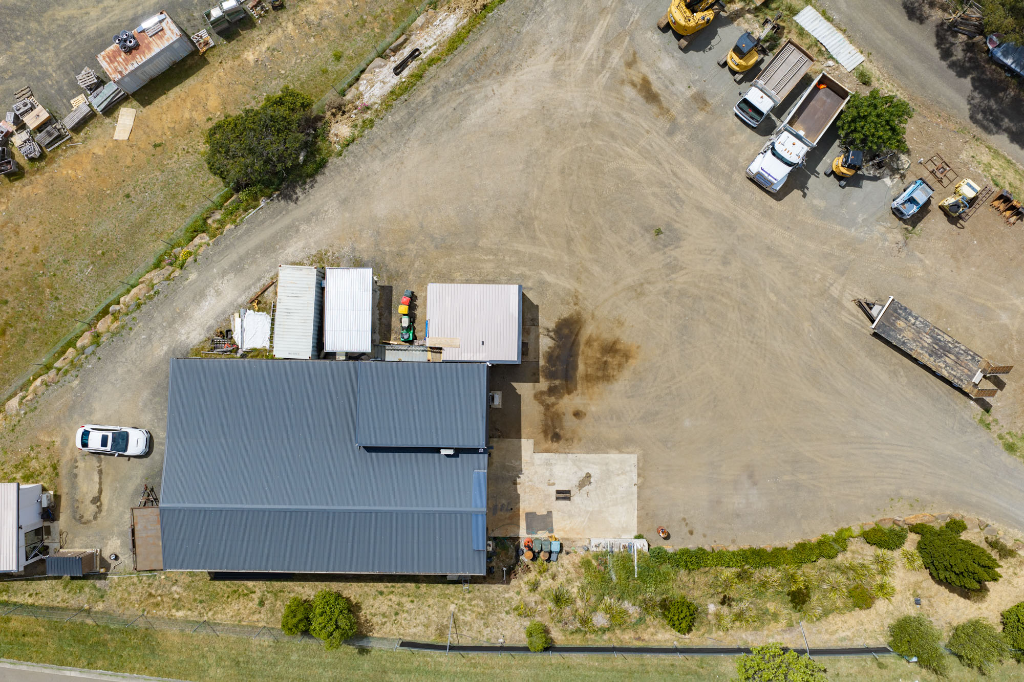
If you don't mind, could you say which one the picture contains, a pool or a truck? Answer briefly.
truck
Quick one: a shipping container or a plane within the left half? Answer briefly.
shipping container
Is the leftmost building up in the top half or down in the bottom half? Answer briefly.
bottom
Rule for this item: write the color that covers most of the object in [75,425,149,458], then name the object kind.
white car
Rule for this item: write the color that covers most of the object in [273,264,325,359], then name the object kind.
white shipping container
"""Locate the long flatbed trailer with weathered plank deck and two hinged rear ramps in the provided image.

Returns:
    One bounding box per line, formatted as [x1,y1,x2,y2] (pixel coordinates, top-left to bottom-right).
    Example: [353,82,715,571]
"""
[857,295,1010,396]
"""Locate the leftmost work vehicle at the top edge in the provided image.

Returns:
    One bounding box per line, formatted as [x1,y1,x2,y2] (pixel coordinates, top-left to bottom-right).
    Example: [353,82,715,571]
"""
[656,0,727,54]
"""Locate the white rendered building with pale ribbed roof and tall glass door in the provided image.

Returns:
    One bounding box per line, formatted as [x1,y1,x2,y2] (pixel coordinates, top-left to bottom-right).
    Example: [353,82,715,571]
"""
[0,483,42,574]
